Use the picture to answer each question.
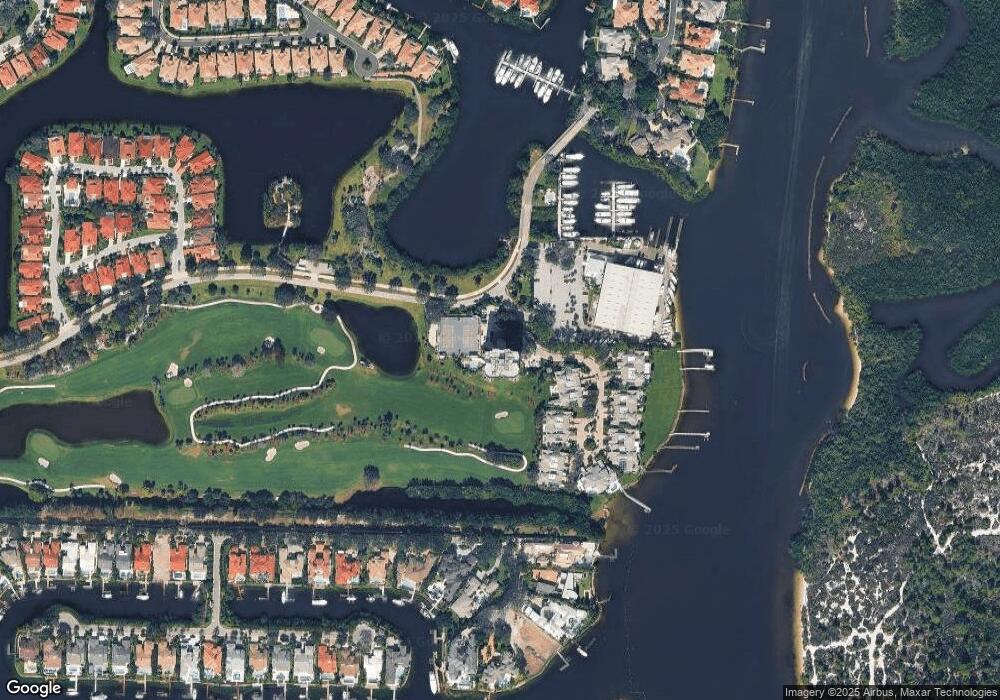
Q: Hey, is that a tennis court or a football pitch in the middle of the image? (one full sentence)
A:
There is a tennis court in the middle of the image.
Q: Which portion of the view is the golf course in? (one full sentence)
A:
The golf course appears toward the left of the photo.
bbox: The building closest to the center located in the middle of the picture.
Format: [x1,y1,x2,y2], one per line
[484,349,520,377]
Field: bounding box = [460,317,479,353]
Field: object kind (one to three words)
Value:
tennis court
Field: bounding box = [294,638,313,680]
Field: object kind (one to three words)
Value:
house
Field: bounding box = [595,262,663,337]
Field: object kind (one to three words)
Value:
shed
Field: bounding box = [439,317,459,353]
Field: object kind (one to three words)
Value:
tennis court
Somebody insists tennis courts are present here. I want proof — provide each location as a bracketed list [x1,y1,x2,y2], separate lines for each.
[460,317,479,353]
[439,317,459,353]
